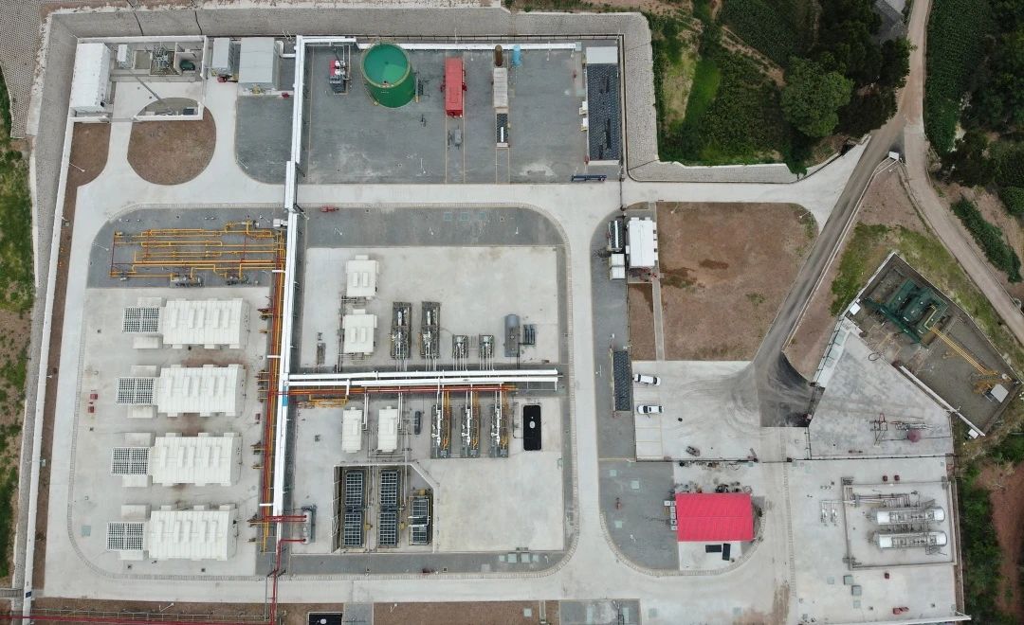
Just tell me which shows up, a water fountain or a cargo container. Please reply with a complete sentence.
The image shows a cargo container.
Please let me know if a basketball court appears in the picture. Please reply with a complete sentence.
No, no basketball court is visible in the scene.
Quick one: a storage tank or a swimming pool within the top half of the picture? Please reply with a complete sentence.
What appears within the top half of the picture is a storage tank.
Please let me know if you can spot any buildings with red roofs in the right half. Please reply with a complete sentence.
Yes, a building with a red roof appears in the right half.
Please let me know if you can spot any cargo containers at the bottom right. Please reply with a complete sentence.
No, no cargo container appears at the bottom right.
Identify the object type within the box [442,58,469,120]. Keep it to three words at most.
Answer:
shipping container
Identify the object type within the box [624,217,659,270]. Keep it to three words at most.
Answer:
building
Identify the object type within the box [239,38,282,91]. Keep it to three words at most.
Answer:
house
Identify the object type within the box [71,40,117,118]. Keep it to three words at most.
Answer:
building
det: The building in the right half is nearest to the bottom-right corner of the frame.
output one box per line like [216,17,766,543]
[983,382,1010,404]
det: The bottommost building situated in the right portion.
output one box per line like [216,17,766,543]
[674,493,755,542]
